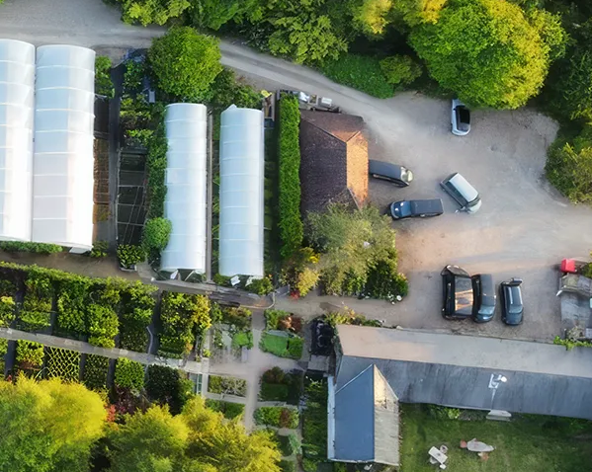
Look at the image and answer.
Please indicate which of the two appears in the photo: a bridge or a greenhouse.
greenhouse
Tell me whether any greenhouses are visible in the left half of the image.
Yes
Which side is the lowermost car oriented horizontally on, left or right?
right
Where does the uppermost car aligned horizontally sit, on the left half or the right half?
right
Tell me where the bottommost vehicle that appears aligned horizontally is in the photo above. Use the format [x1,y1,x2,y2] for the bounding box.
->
[388,199,443,220]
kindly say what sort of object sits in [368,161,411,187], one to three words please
car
